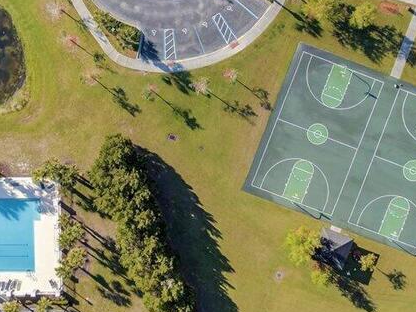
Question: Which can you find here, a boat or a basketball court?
basketball court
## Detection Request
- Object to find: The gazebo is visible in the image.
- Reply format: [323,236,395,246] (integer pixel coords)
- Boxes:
[313,225,353,267]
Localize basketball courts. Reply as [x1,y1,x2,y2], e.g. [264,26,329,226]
[244,43,393,225]
[338,79,416,255]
